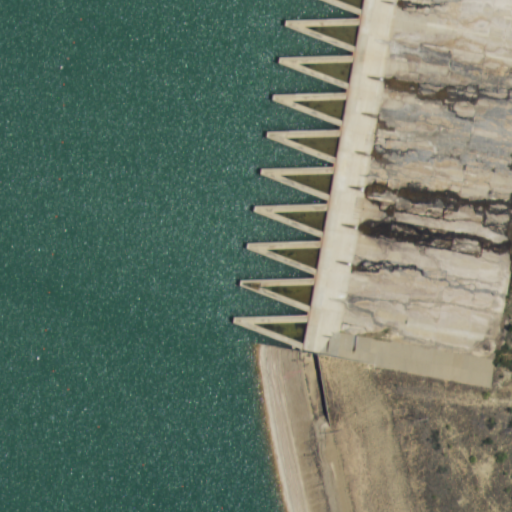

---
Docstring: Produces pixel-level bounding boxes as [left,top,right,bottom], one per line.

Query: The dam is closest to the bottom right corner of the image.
[256,344,412,512]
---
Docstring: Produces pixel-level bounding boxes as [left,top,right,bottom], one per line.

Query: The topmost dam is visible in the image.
[234,0,397,354]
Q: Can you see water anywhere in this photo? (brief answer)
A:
Yes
